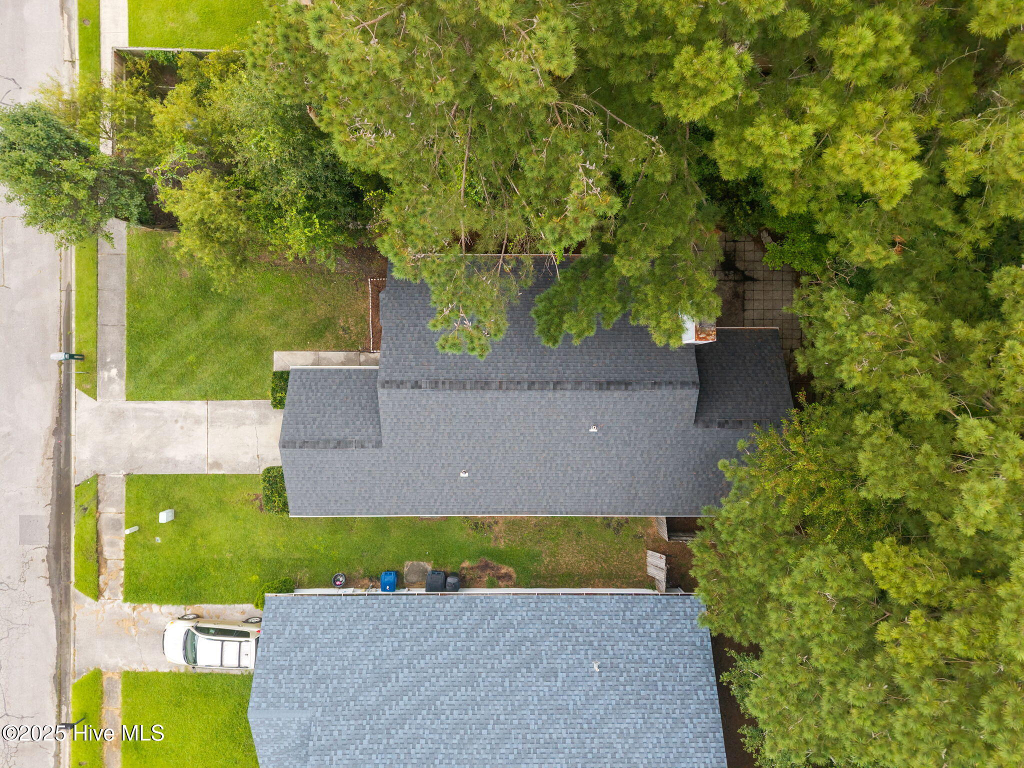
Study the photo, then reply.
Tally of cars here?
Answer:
1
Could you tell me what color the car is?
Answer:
white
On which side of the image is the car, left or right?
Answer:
left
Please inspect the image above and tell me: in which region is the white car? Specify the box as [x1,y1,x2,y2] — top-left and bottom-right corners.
[161,615,261,673]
